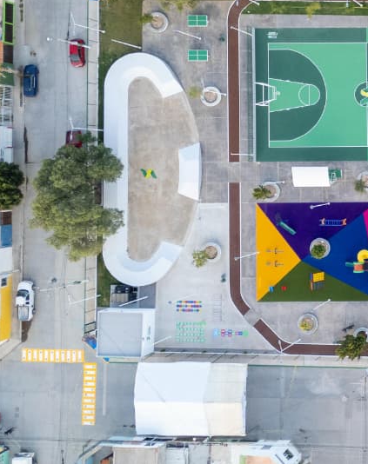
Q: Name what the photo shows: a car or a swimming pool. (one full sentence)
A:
Of the two, only a car appears.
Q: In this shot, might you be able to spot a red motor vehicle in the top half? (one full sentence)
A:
Yes, I can see a red motor vehicle in the top half.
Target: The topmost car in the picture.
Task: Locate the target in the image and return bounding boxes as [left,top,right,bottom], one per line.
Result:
[69,38,87,68]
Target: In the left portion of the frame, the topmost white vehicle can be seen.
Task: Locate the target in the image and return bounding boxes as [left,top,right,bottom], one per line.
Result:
[15,280,36,322]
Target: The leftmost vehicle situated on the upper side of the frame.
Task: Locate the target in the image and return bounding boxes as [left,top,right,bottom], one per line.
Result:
[21,64,40,98]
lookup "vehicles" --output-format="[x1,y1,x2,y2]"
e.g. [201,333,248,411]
[66,126,84,152]
[21,64,40,98]
[11,452,37,464]
[69,38,87,68]
[15,280,36,322]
